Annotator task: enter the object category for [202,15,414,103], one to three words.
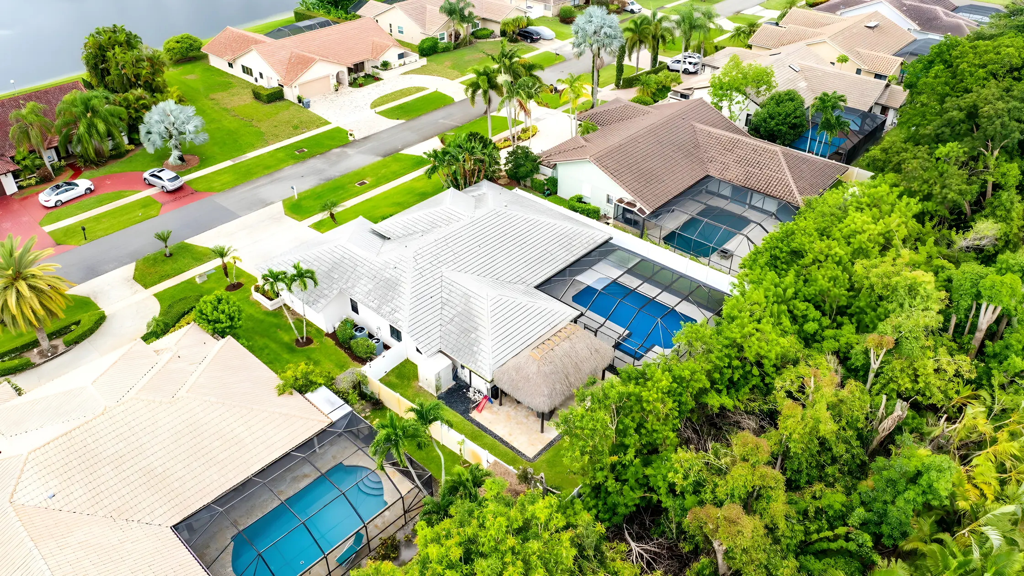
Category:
house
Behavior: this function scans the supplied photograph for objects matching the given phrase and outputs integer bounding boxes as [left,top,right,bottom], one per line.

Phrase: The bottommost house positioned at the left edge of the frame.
[0,322,332,576]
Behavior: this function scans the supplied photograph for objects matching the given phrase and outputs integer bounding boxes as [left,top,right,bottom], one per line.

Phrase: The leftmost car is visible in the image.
[36,181,92,205]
